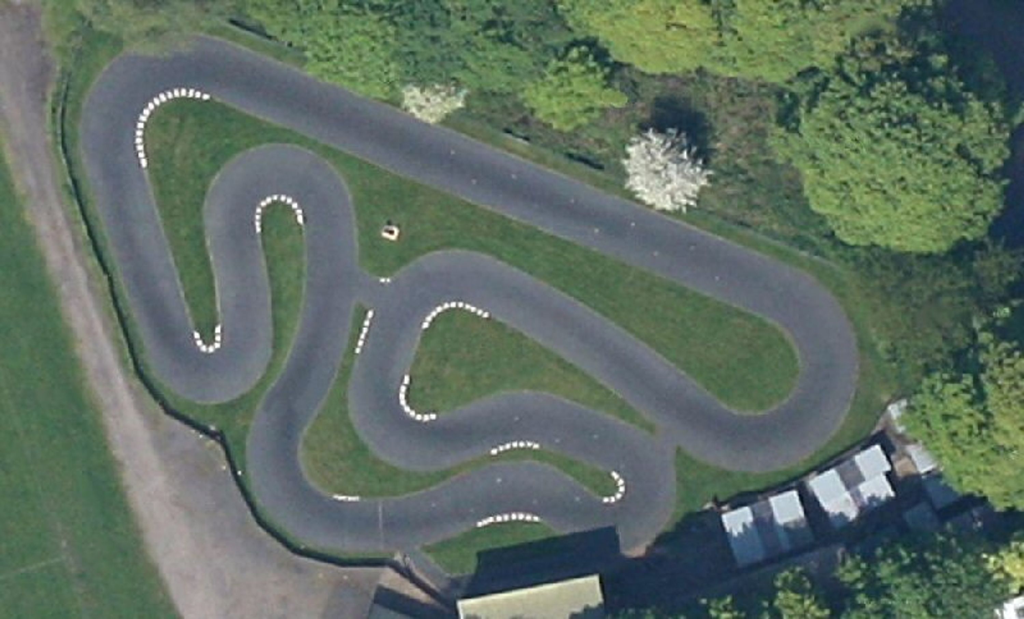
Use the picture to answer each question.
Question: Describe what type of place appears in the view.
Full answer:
It's a sports ground.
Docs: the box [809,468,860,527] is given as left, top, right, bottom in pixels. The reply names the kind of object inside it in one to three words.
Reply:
shed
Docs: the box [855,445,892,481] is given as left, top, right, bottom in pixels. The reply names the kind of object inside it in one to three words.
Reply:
shed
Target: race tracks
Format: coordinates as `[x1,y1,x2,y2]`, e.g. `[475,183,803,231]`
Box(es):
[81,32,860,611]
